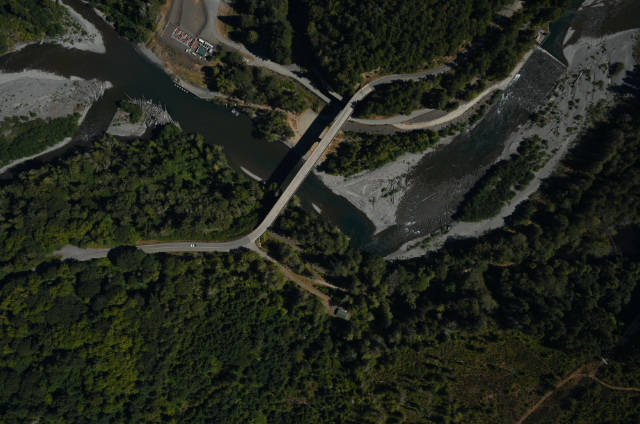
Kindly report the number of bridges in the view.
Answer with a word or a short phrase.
one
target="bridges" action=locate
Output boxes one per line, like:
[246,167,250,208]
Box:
[249,83,372,243]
